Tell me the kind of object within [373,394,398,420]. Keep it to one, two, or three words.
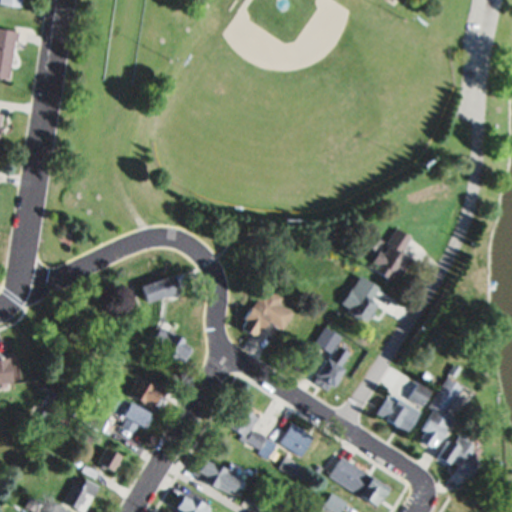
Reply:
building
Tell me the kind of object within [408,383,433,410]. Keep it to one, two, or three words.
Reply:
building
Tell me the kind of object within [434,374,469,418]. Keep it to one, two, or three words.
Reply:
house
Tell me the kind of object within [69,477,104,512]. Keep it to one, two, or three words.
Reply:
house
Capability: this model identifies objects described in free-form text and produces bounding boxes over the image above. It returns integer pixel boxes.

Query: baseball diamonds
[152,0,454,213]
